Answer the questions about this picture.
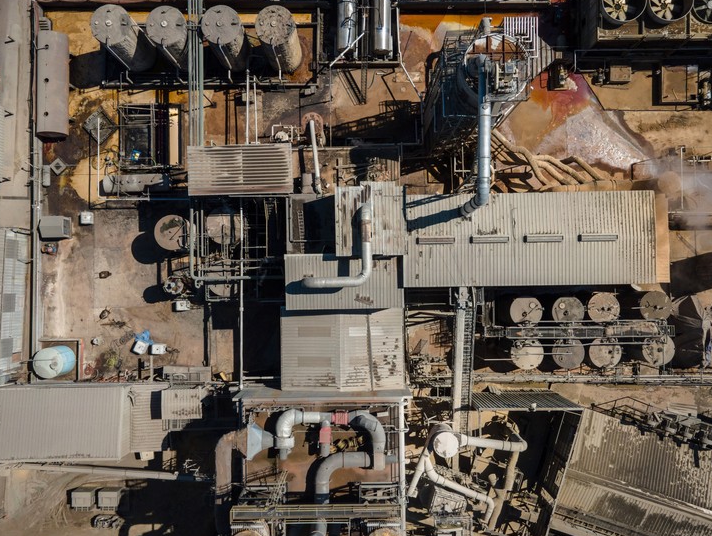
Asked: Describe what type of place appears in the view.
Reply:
industrial area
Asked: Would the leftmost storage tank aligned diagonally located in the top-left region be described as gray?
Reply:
Yes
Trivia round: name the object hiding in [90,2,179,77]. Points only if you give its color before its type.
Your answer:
gray storage tank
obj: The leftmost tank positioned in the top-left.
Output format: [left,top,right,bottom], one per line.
[37,27,78,134]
